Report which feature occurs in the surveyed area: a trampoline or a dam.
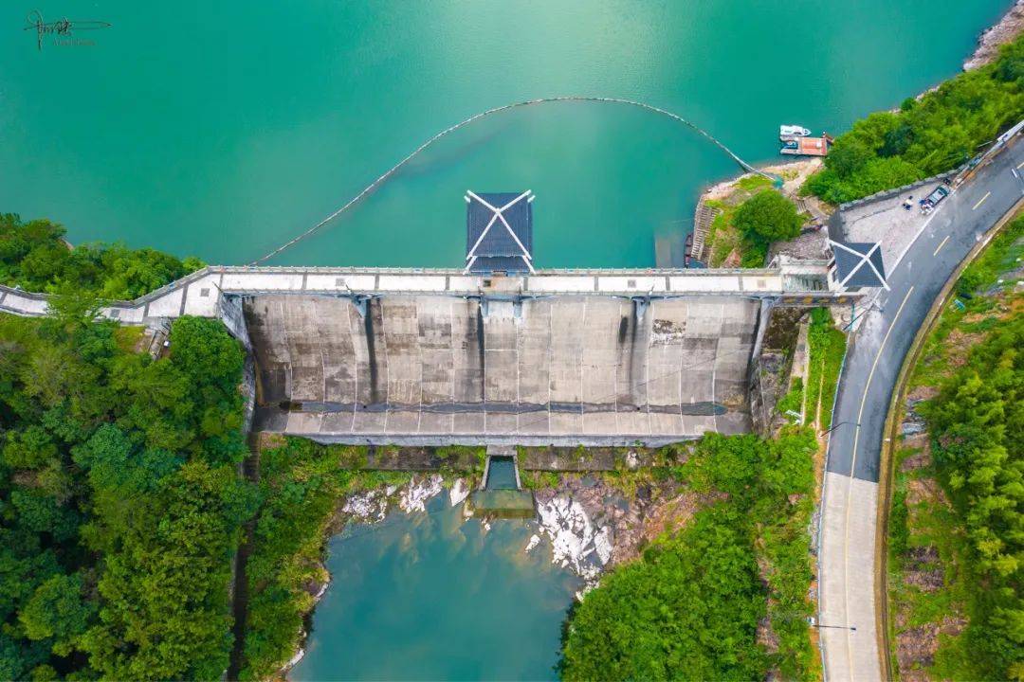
dam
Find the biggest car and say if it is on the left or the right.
right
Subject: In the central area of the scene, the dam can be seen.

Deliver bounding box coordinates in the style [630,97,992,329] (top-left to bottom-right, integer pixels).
[221,267,782,518]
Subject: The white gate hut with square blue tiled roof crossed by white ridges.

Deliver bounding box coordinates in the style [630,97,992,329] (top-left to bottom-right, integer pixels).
[816,240,886,291]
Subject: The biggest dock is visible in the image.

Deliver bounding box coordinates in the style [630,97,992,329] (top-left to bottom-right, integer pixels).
[781,131,827,154]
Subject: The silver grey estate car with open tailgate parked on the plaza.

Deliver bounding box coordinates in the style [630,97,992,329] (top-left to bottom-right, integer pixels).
[928,184,954,205]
